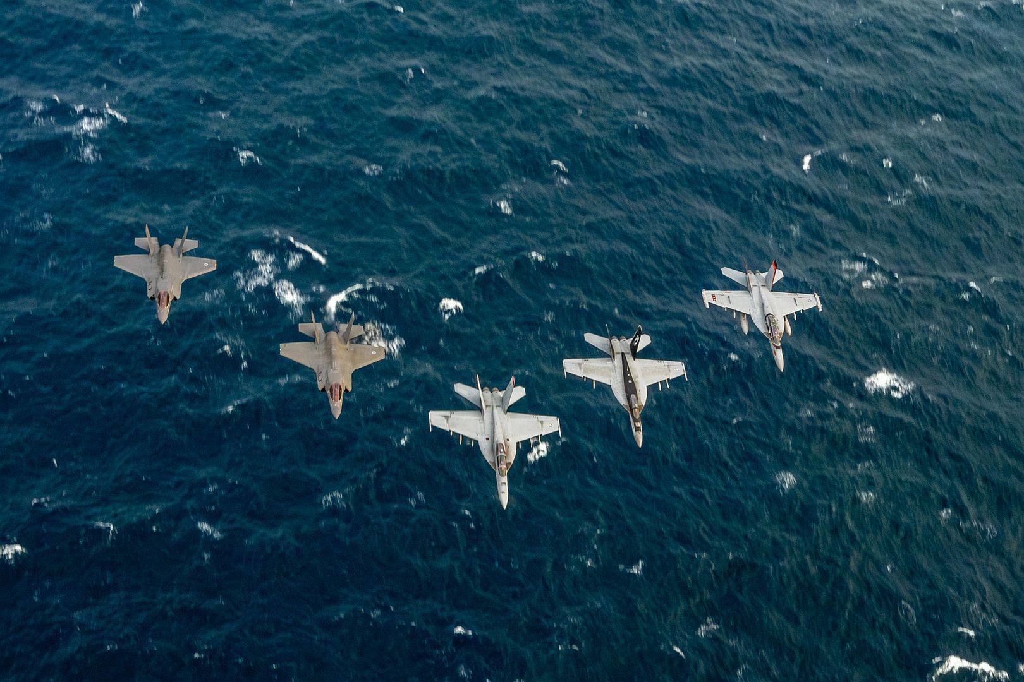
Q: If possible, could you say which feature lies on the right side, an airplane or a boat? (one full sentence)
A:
There is an airplane on the right side.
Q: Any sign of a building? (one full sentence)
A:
No, there isn't any building down there.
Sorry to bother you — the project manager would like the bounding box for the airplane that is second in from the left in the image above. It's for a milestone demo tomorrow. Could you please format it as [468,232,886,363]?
[279,312,385,419]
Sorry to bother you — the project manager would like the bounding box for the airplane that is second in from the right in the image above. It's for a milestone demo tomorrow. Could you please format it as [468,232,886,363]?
[562,325,686,448]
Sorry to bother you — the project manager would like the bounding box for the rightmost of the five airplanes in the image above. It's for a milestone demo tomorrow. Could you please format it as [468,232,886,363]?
[701,260,822,372]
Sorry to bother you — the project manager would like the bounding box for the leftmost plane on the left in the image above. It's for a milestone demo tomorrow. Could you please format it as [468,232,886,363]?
[114,224,217,324]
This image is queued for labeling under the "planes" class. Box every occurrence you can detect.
[114,224,217,324]
[429,376,560,509]
[562,325,686,448]
[701,260,822,372]
[279,312,385,419]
